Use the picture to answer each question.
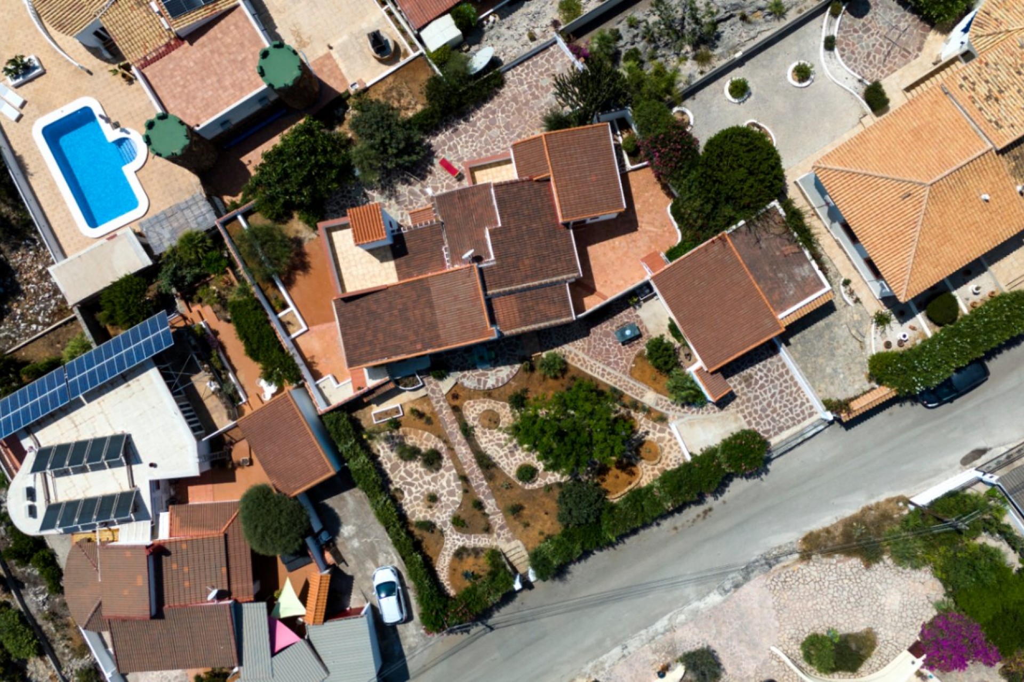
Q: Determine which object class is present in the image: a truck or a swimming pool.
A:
swimming pool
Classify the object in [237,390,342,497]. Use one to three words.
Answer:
house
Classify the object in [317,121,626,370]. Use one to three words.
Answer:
house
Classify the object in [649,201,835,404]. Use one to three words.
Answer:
building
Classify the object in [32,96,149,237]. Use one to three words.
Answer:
swimming pool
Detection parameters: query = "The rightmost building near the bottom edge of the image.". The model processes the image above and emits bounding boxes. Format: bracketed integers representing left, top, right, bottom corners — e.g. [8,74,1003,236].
[308,600,385,682]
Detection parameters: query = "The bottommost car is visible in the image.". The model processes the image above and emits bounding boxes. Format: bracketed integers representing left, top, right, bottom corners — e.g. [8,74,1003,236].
[373,562,412,628]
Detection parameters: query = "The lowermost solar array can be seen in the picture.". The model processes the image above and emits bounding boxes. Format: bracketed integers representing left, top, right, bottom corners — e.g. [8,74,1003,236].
[40,489,139,532]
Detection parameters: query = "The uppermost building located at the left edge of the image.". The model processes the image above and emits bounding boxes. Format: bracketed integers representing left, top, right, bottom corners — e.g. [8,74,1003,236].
[32,0,281,138]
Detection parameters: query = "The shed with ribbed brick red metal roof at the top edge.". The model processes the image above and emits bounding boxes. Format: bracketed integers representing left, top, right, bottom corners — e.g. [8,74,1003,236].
[404,0,465,39]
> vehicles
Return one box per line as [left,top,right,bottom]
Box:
[373,562,412,628]
[915,362,992,410]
